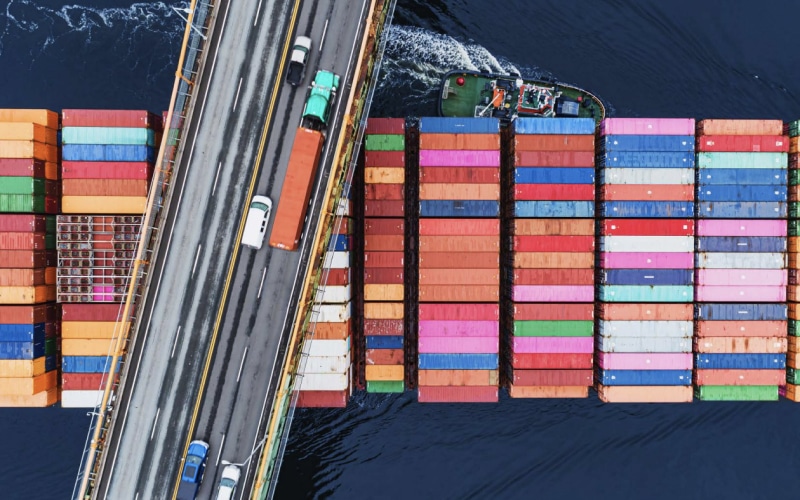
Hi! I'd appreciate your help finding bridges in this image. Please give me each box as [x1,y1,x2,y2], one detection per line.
[73,0,395,500]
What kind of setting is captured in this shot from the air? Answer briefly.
port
